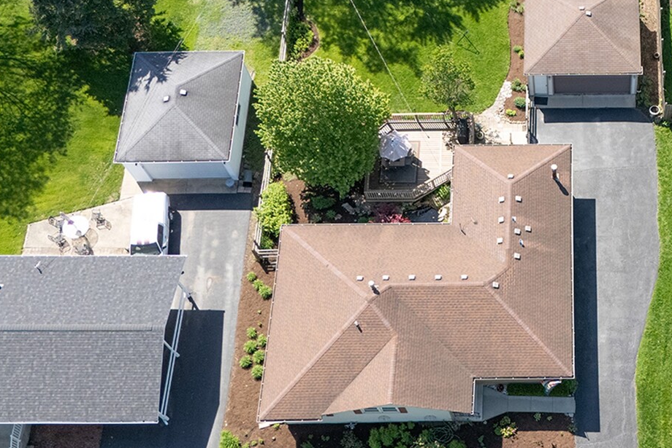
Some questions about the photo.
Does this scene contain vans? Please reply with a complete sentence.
Yes, I can see a van in this picture.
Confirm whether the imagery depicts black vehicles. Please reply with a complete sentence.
No, I find no black vehicle anywhere in the image.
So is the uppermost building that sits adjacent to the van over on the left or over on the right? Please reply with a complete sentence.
It is on the left.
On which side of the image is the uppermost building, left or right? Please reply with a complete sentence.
The uppermost building sits on the right side.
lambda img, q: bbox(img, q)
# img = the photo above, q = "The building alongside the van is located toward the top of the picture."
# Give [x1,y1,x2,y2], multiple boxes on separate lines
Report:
[111,50,252,179]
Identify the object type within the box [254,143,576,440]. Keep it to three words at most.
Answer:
house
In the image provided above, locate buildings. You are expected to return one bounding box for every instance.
[0,253,195,448]
[254,143,576,440]
[111,50,252,179]
[523,0,643,94]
